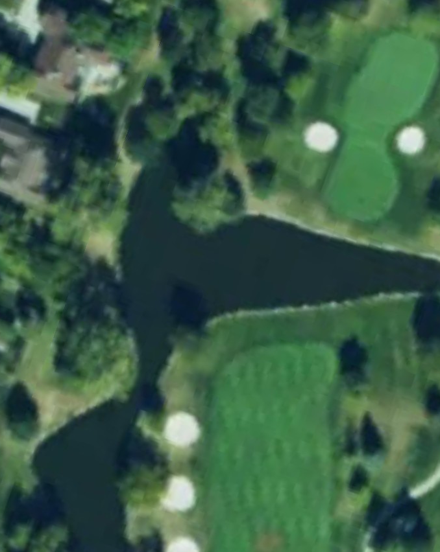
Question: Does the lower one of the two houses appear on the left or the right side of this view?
left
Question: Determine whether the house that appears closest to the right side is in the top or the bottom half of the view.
top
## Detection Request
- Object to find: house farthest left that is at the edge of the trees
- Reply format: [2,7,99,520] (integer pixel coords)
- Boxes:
[0,113,54,212]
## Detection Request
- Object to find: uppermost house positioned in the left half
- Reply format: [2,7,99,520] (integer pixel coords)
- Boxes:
[29,9,112,100]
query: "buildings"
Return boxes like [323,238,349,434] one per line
[29,9,112,100]
[0,113,54,212]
